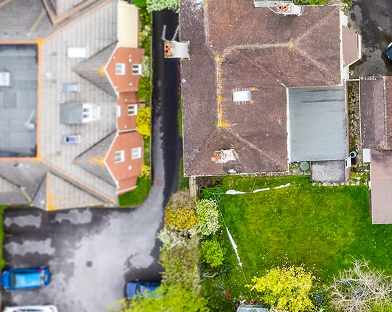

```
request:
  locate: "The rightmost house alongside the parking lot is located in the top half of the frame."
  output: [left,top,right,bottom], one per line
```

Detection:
[166,0,364,182]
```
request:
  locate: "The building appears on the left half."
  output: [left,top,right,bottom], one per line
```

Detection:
[0,0,143,210]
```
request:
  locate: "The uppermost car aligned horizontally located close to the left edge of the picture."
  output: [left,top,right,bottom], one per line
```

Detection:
[2,267,52,291]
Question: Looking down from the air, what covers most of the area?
buildings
